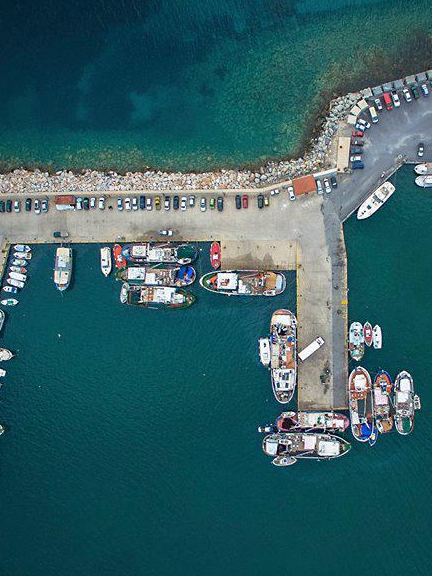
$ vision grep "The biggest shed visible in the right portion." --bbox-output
[292,175,317,196]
